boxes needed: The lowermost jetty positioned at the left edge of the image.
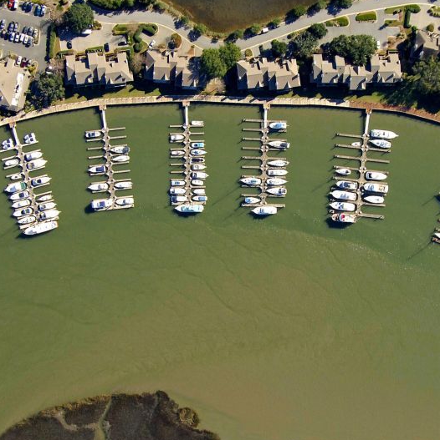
[1,122,56,228]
